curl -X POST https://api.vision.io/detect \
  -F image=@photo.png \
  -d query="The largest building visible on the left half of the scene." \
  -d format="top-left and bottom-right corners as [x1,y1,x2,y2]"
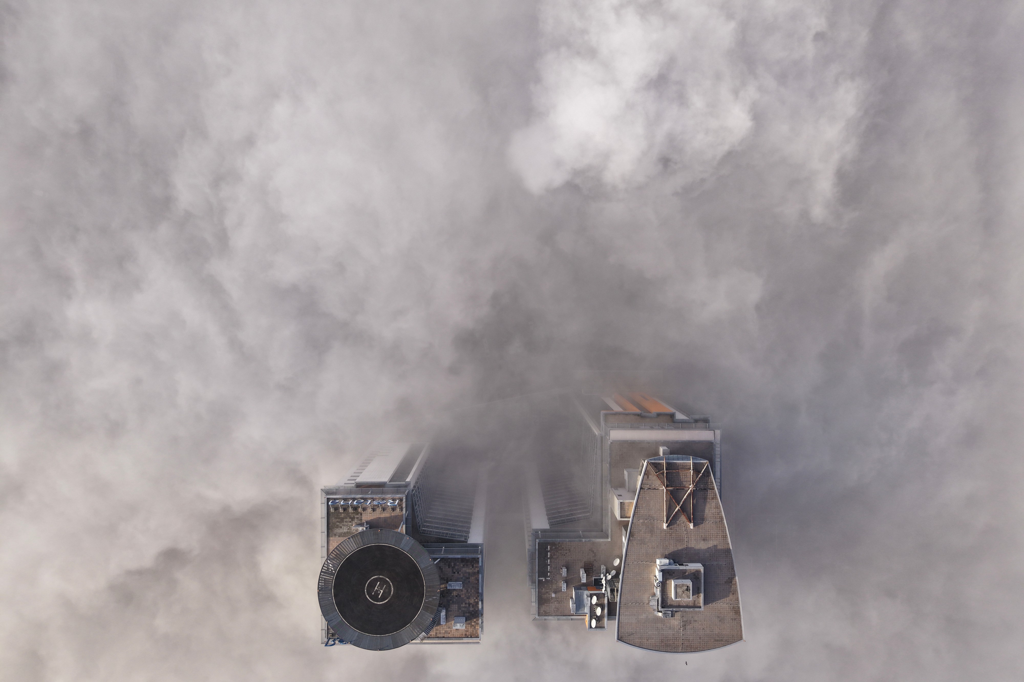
[321,441,492,645]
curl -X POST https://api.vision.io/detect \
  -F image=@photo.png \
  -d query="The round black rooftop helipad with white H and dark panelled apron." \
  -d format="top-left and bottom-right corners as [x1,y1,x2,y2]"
[317,519,441,652]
